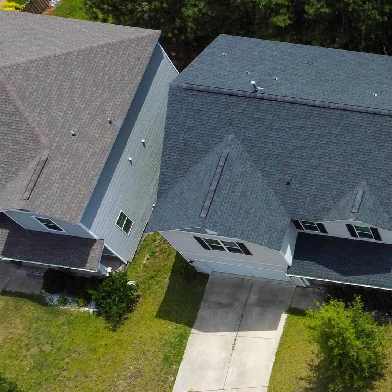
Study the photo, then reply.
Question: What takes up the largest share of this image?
buildings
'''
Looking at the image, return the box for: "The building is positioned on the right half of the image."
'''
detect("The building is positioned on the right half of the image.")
[144,35,392,294]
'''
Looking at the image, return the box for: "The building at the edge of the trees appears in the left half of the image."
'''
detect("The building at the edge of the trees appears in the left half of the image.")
[0,12,180,284]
